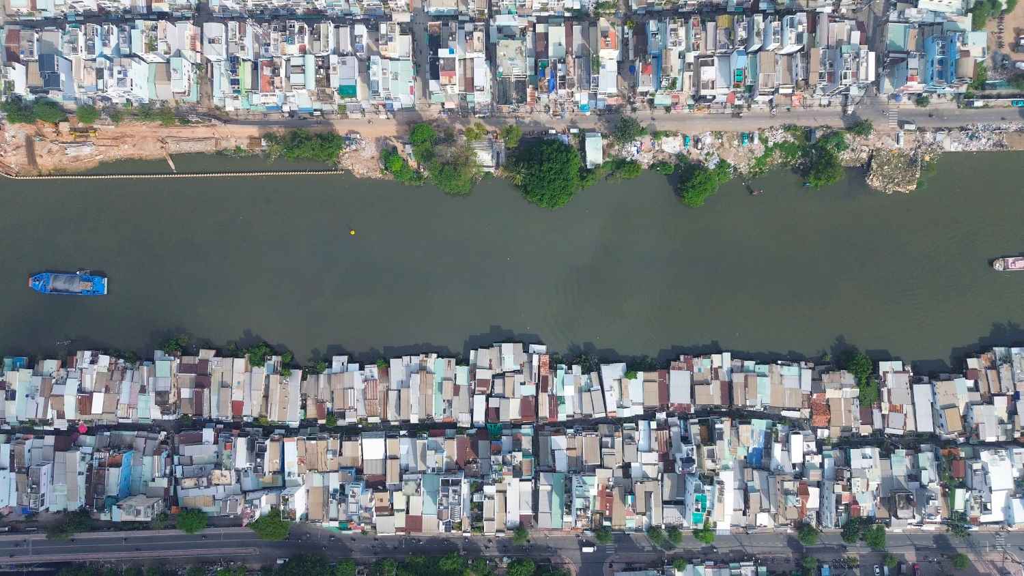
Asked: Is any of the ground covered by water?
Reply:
Yes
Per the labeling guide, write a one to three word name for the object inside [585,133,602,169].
shed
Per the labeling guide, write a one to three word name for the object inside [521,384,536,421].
house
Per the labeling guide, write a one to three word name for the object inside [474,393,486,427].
house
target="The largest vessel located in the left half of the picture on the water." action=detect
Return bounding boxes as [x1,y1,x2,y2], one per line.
[27,272,110,295]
